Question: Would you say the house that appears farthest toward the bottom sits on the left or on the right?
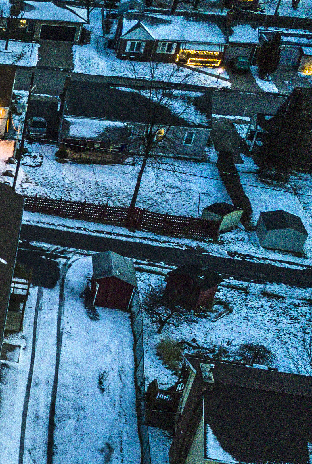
right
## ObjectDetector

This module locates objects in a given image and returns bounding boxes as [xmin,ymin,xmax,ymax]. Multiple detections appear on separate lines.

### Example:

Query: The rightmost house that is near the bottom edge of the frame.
[159,333,312,464]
